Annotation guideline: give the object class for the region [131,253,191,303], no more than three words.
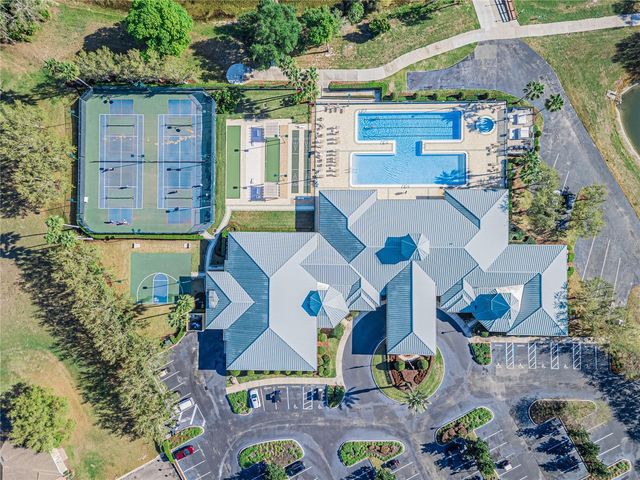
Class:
basketball court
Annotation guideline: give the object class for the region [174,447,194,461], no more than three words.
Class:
car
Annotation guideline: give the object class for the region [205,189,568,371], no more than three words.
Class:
building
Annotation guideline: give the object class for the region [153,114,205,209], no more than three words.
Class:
tennis court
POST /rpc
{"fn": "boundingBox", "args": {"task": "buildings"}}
[205,189,568,371]
[0,438,75,480]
